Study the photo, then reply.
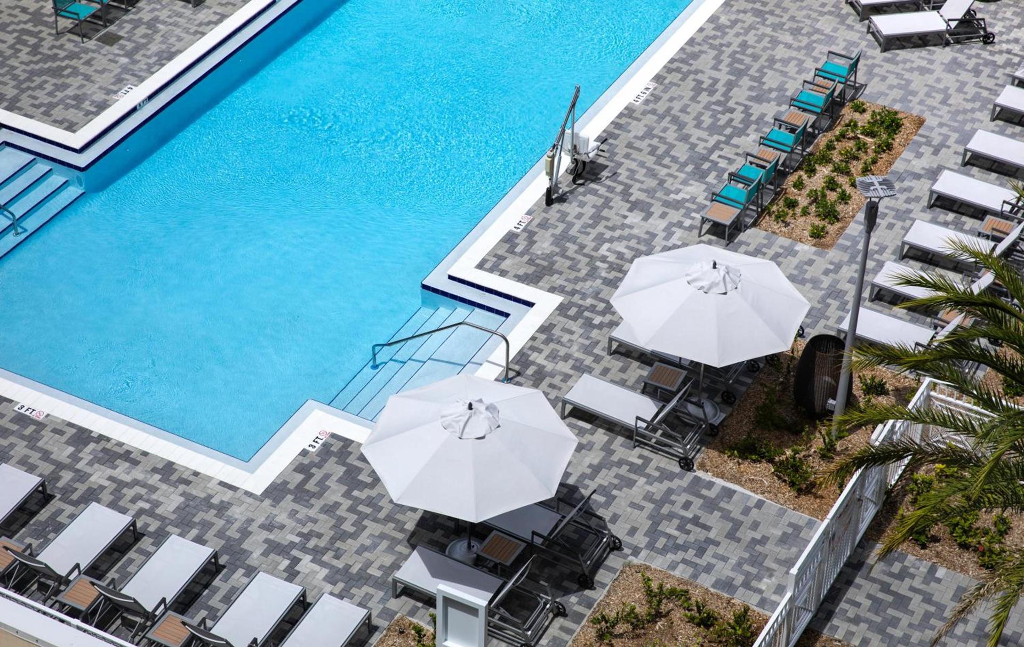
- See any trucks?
No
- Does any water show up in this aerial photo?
Yes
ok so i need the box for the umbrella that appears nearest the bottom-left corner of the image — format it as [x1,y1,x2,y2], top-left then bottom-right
[359,375,581,565]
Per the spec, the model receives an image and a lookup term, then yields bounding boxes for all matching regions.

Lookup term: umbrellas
[359,375,581,565]
[608,244,811,416]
